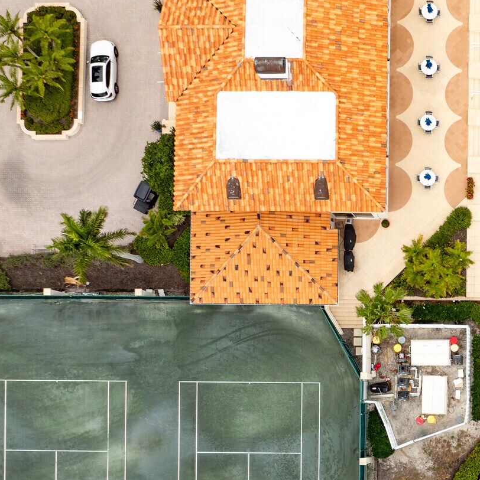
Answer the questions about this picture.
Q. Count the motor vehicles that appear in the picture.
two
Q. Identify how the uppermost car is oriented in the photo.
from top to bottom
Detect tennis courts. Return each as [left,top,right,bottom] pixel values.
[0,300,151,480]
[151,301,362,480]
